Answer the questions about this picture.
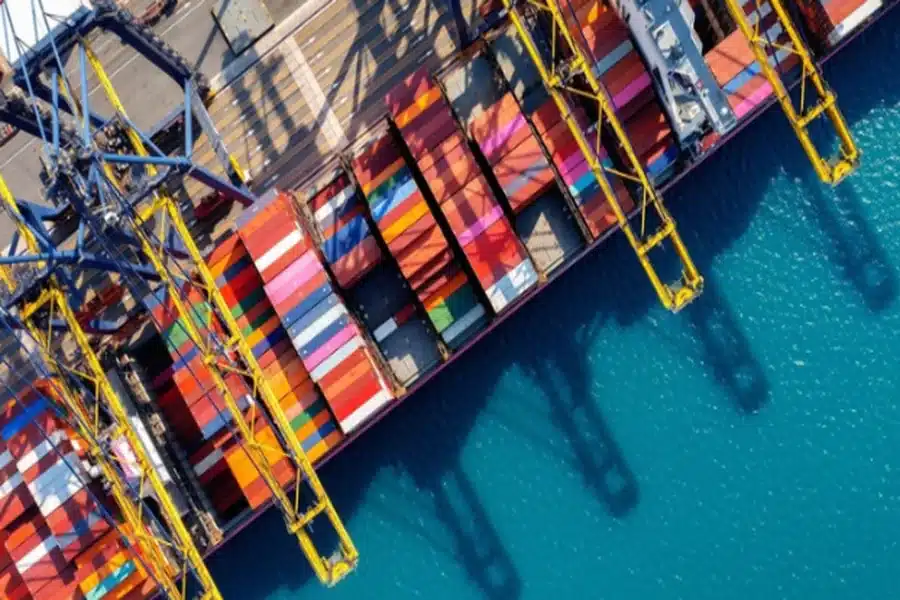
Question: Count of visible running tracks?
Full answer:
There are no running tracks in this view.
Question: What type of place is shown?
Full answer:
The picture captures a port.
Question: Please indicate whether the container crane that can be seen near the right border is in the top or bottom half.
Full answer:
You can find the container crane that can be seen near the right border in the top half.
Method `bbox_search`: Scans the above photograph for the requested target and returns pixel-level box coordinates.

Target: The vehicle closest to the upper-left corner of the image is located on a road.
[134,0,169,25]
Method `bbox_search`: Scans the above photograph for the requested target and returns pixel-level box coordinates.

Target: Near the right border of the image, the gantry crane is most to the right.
[733,0,873,192]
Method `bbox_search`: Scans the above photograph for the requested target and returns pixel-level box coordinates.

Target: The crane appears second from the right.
[433,0,712,317]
